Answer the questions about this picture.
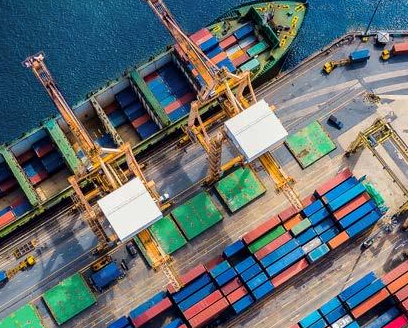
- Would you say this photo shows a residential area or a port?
port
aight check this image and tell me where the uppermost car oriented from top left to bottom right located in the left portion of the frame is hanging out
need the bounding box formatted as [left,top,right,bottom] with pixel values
[124,239,139,257]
